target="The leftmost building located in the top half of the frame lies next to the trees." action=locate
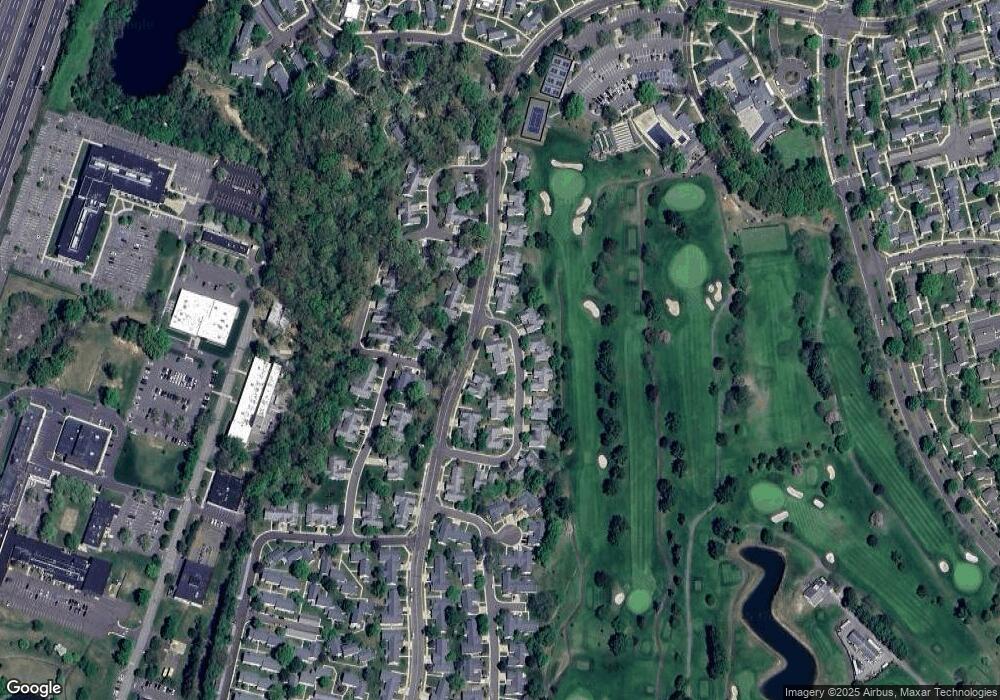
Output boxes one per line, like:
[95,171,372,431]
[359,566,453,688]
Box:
[58,144,175,265]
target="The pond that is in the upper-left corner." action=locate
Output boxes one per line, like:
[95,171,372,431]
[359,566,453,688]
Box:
[112,0,205,97]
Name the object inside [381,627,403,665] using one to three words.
house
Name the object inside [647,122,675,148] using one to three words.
swimming pool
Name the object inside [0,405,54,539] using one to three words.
building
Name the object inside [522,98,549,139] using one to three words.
tennis court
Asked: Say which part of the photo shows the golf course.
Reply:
right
